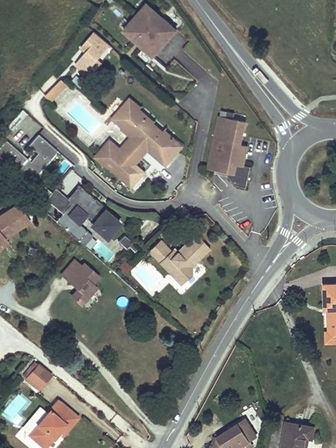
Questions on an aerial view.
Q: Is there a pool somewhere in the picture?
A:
Yes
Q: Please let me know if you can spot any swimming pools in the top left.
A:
Yes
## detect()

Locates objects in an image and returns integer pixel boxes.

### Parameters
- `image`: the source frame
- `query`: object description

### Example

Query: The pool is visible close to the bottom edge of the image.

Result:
[2,392,32,426]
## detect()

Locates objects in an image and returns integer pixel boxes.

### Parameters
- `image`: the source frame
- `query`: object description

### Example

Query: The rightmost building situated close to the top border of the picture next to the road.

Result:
[122,3,178,58]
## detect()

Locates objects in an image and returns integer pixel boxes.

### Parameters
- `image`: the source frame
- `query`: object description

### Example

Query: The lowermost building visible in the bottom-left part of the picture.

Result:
[30,399,80,448]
